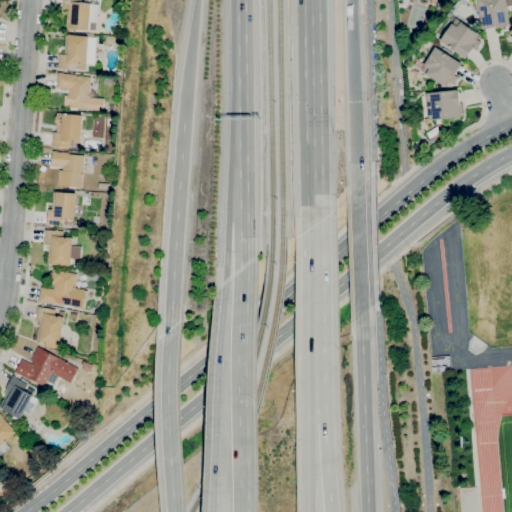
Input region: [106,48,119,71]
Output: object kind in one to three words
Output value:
swimming pool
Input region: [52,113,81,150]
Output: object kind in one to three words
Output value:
house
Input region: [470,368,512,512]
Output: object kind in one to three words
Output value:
running track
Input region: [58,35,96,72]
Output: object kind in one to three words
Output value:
house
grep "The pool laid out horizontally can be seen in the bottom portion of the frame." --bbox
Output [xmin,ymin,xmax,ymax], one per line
[44,434,72,448]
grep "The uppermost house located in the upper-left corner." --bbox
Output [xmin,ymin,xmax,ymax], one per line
[62,0,97,30]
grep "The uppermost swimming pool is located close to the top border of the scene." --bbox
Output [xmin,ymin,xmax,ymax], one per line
[104,10,120,32]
